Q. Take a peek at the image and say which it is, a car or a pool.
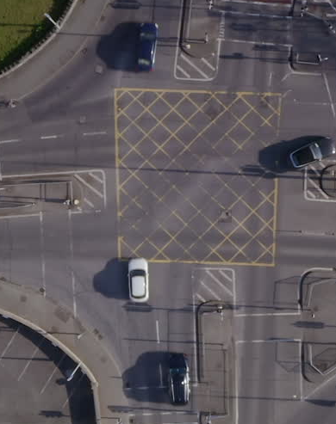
car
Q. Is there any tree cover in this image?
No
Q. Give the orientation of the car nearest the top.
up and down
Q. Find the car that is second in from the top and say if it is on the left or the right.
right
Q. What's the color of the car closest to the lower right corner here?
black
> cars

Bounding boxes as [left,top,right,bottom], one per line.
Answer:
[127,258,150,301]
[136,23,158,71]
[288,137,336,168]
[167,354,190,405]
